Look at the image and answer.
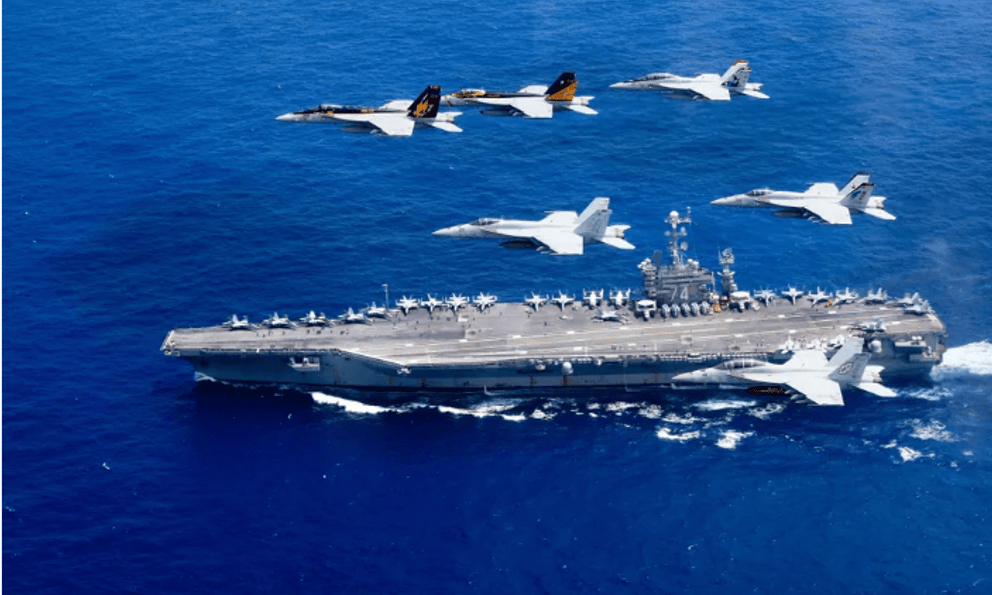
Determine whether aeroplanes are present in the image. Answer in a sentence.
Yes, there's an aeroplane here.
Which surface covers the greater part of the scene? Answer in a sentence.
For the most part, this view shows water.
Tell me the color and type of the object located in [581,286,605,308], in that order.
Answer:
white airplane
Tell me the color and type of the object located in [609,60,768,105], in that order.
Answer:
white airplane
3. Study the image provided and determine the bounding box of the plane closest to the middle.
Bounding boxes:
[472,289,493,308]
